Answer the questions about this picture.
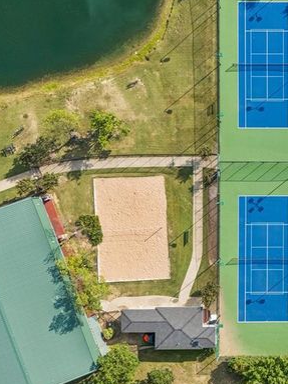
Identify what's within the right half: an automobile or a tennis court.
tennis court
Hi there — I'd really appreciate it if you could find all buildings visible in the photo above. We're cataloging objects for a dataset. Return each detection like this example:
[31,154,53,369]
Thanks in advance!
[0,196,106,384]
[121,306,216,350]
